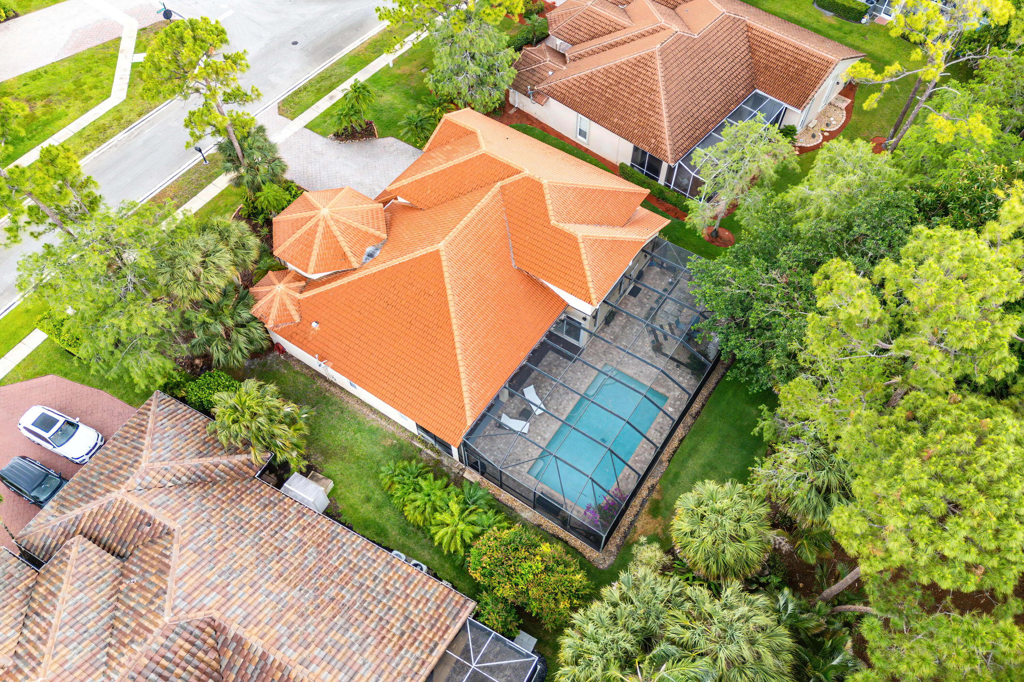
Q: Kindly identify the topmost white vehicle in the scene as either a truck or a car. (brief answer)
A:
car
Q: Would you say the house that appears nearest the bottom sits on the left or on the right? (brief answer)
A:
left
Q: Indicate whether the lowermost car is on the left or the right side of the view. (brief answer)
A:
left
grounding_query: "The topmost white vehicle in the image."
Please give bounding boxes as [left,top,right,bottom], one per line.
[13,401,106,468]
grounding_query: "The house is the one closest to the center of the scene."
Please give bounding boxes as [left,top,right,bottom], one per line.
[252,106,673,463]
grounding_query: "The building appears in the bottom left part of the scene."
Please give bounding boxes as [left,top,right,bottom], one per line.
[0,387,479,682]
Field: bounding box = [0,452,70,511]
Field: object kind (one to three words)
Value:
car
